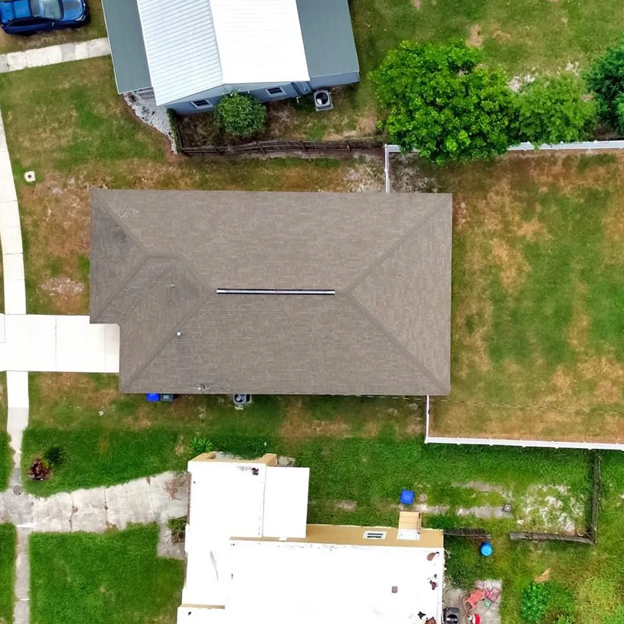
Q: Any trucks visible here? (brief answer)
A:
No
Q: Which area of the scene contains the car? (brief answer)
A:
top left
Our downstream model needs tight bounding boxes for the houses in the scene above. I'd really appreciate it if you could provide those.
[101,0,361,113]
[176,460,444,624]
[89,187,453,397]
